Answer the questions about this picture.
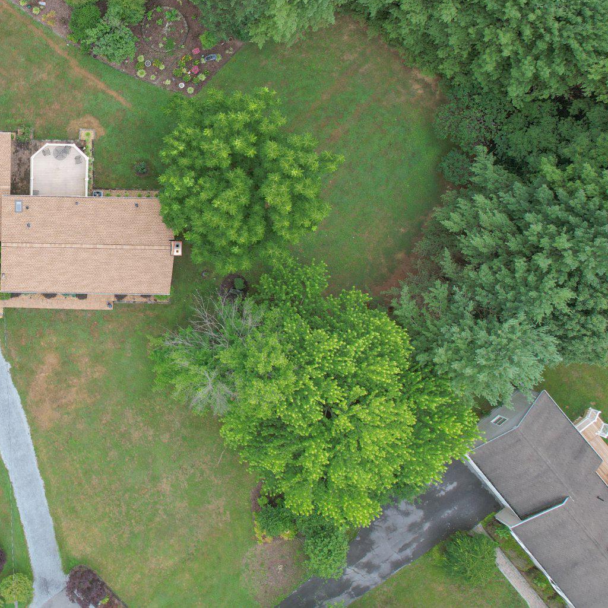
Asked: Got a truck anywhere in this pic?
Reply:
No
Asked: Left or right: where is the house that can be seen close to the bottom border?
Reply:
right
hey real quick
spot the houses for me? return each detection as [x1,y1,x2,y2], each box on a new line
[462,390,608,608]
[0,131,184,296]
